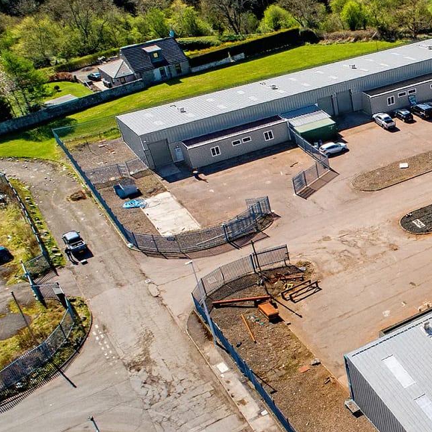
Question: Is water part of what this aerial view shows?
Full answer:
No, no water is visible.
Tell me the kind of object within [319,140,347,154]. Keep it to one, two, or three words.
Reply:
vehicle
